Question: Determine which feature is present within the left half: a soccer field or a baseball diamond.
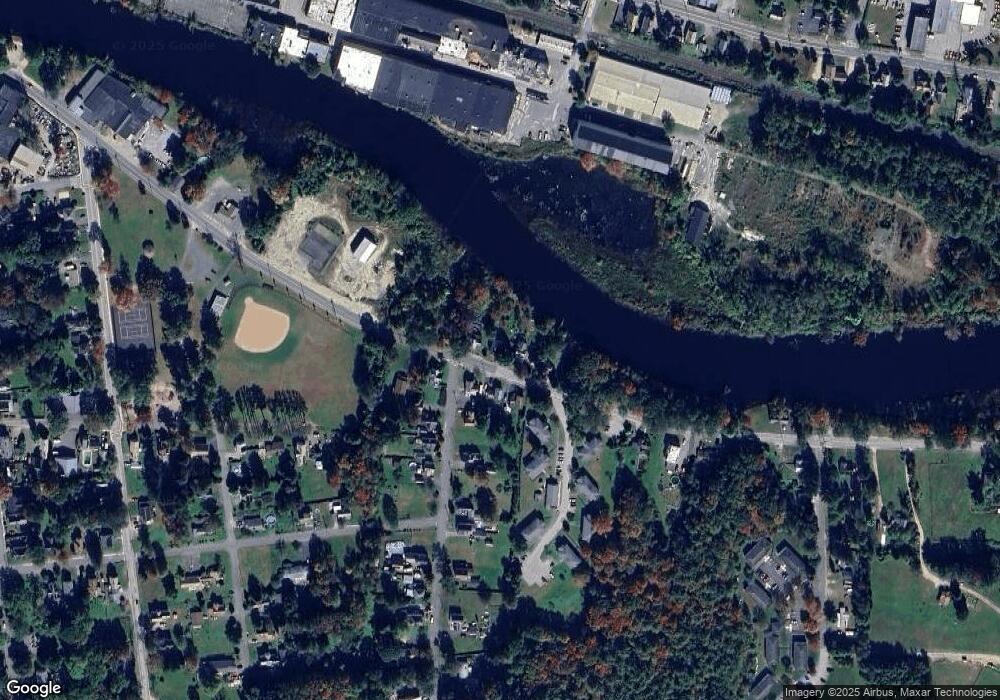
baseball diamond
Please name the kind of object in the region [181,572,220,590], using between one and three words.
house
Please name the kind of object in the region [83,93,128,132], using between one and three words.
building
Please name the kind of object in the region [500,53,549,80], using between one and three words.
building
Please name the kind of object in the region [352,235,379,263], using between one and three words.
shed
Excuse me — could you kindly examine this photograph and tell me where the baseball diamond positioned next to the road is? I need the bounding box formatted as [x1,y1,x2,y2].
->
[216,281,363,430]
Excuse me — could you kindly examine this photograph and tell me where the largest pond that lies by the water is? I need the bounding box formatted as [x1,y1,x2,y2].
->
[482,155,654,253]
